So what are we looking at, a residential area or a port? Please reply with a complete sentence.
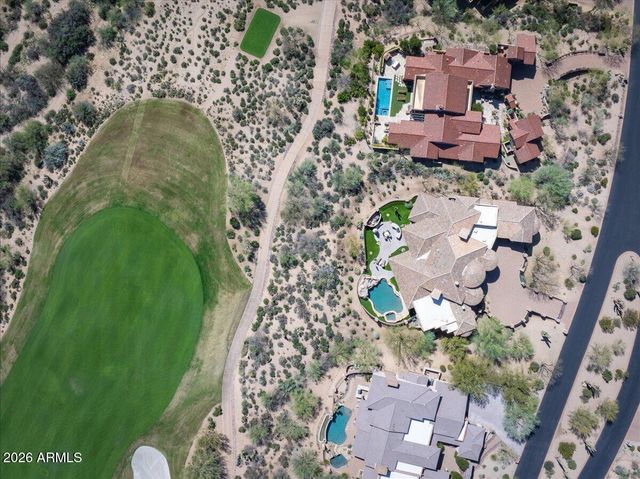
It's a residential area.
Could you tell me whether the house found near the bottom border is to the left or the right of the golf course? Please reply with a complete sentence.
Looking at the photo, the house found near the bottom border lies to the right of the golf course.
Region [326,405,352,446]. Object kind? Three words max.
swimming pool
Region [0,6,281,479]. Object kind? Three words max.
golf course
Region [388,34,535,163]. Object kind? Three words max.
house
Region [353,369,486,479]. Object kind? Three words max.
house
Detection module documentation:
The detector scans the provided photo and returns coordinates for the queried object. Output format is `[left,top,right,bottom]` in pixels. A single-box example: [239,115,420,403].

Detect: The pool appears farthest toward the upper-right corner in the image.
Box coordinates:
[374,76,392,118]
